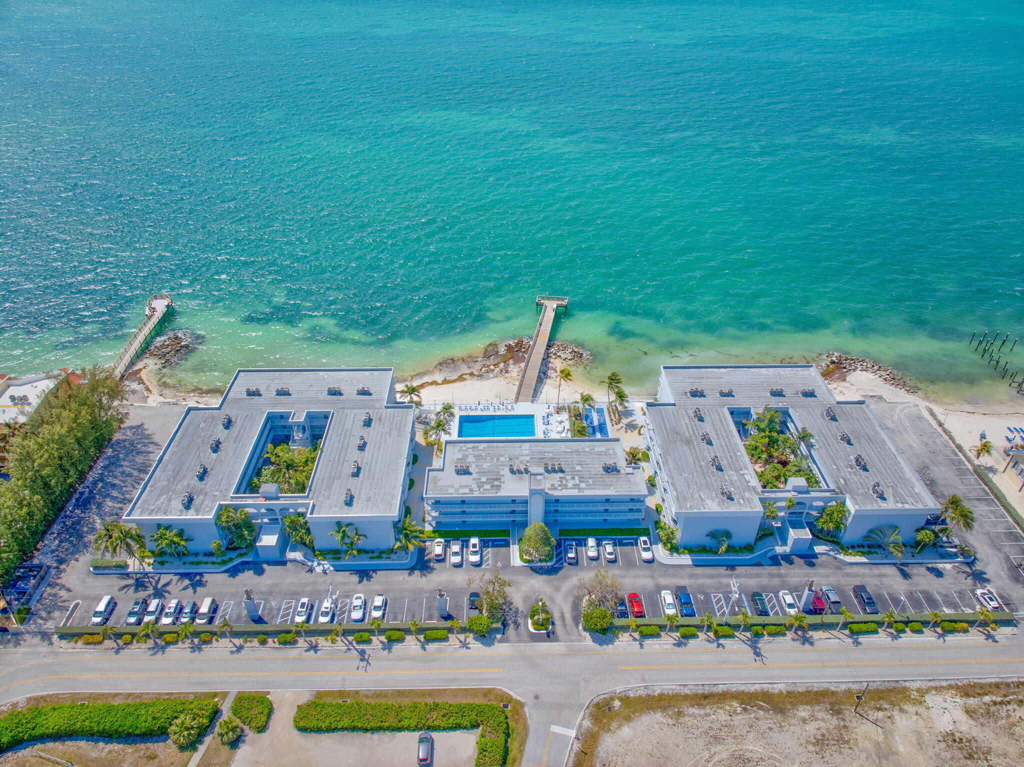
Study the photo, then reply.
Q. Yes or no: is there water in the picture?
Yes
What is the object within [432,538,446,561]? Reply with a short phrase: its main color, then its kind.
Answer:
white car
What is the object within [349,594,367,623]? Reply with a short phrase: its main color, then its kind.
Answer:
white car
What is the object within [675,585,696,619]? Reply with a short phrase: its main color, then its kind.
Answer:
blue truck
